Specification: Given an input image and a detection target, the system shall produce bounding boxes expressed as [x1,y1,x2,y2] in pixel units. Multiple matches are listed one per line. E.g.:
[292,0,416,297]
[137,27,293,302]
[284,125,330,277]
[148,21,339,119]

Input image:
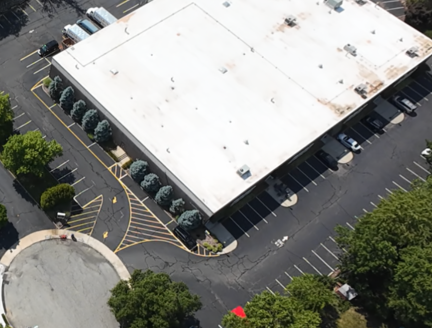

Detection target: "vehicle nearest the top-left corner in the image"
[40,38,60,54]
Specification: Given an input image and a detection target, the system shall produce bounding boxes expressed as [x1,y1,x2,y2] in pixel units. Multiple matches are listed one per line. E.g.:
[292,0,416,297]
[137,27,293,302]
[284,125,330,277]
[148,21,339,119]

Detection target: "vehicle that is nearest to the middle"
[175,226,199,248]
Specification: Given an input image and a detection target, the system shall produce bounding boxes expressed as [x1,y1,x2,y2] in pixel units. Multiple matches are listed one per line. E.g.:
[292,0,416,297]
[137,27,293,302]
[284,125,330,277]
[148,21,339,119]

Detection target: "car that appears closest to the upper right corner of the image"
[396,94,422,113]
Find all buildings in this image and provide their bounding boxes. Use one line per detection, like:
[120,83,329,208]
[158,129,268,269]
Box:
[49,0,432,224]
[338,284,358,301]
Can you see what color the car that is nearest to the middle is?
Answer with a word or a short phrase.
black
